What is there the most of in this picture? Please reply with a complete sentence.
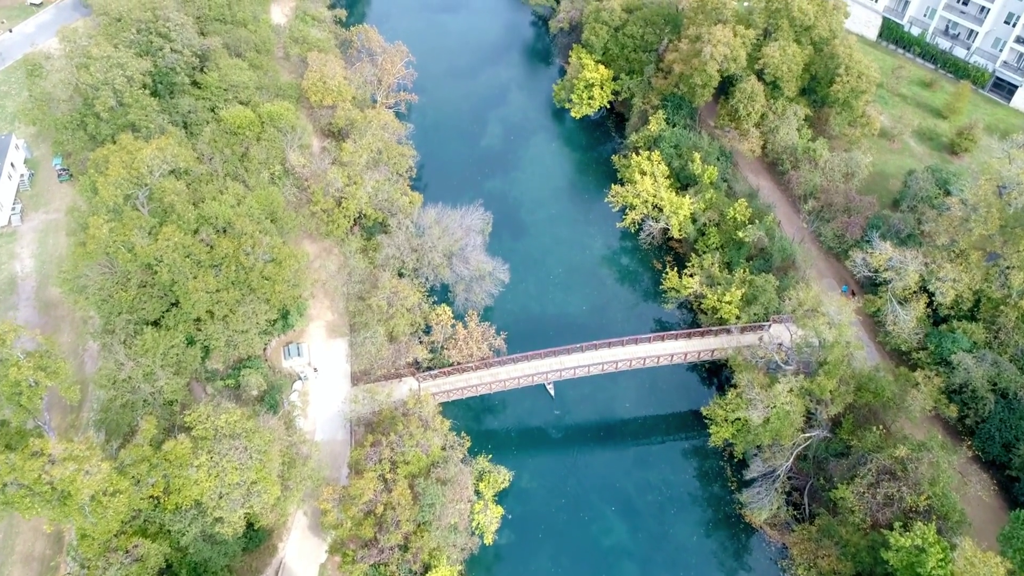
What you mostly see from above here is trees.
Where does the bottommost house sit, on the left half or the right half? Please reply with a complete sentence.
The bottommost house is on the left side of the image.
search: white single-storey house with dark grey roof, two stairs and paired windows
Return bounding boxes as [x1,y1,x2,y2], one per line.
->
[0,124,43,226]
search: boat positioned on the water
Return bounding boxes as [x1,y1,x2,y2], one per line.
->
[543,383,555,399]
